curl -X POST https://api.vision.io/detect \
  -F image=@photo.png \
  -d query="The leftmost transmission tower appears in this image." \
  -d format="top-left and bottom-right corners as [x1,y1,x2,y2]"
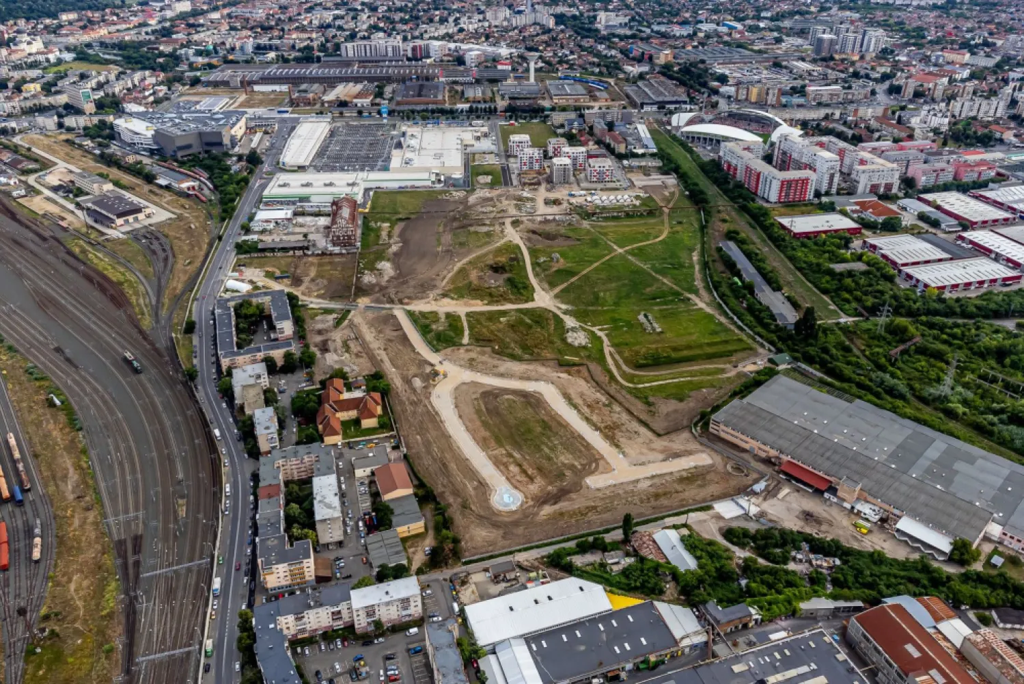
[874,301,894,335]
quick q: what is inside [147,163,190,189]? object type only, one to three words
shed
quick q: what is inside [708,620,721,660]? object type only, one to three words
chimney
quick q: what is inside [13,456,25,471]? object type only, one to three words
rail car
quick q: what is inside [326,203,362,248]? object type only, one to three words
building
